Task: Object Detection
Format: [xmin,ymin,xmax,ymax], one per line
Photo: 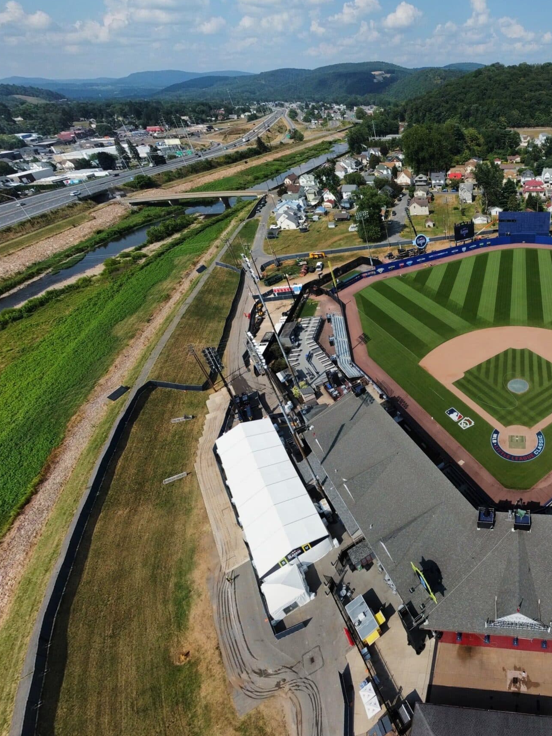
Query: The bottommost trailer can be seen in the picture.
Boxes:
[345,595,385,645]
